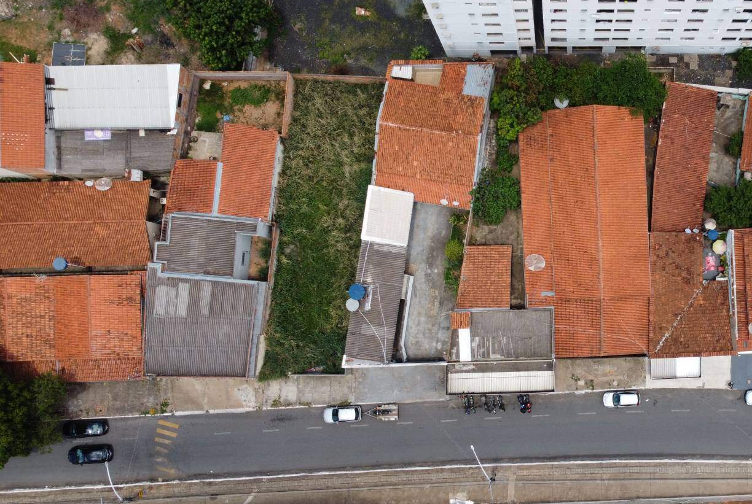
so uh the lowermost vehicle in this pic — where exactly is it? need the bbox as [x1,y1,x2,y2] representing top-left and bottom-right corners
[70,444,115,463]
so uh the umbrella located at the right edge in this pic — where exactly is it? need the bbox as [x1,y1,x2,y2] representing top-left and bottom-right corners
[712,239,726,254]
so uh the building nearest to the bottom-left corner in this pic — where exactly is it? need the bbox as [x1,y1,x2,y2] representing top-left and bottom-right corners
[0,273,144,382]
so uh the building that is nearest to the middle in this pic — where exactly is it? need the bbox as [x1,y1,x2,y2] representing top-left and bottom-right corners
[344,185,417,362]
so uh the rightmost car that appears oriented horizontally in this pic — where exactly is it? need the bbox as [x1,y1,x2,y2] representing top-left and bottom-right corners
[603,390,639,407]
